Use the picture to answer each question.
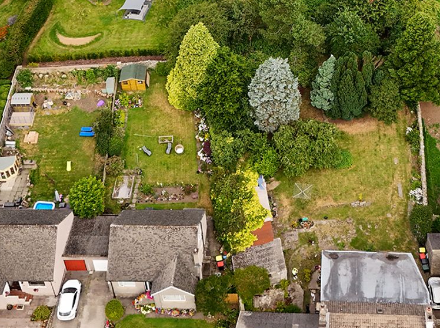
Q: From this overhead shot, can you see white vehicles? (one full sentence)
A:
Yes, the frame does contain a white vehicle.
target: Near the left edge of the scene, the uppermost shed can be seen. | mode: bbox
[6,93,36,134]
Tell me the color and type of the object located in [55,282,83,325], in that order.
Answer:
white car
